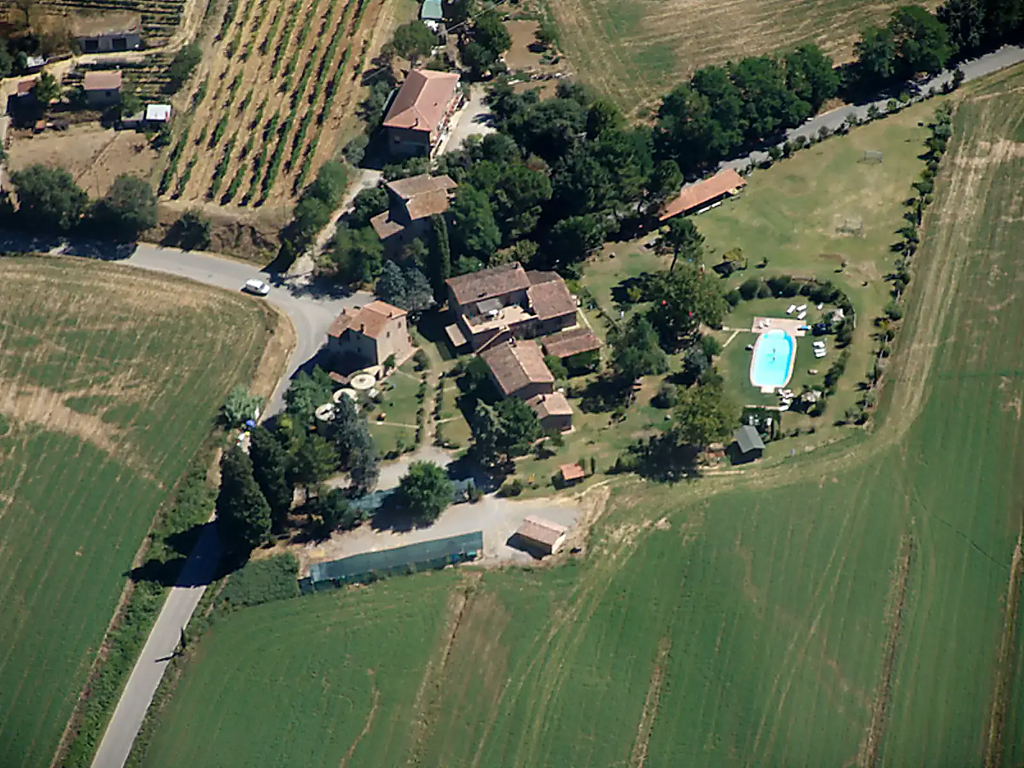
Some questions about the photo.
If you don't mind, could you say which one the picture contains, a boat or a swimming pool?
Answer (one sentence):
I can see a swimming pool in this picture.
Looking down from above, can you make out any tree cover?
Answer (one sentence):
Yes, there's tree cover in this view.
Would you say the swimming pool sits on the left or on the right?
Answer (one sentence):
You can find the swimming pool on the right side of the picture.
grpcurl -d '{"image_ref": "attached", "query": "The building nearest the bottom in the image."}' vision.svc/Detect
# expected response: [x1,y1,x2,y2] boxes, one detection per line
[517,515,566,554]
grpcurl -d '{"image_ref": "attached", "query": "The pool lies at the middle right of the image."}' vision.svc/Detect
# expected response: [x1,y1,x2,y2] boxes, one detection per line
[751,317,806,393]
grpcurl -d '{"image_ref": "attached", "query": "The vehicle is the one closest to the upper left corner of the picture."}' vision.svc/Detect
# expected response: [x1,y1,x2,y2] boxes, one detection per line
[242,277,270,294]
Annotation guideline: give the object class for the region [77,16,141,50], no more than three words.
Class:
building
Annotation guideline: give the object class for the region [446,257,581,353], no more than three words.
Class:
house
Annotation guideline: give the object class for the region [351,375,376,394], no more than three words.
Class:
umbrella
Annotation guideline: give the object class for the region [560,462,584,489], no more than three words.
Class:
shed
